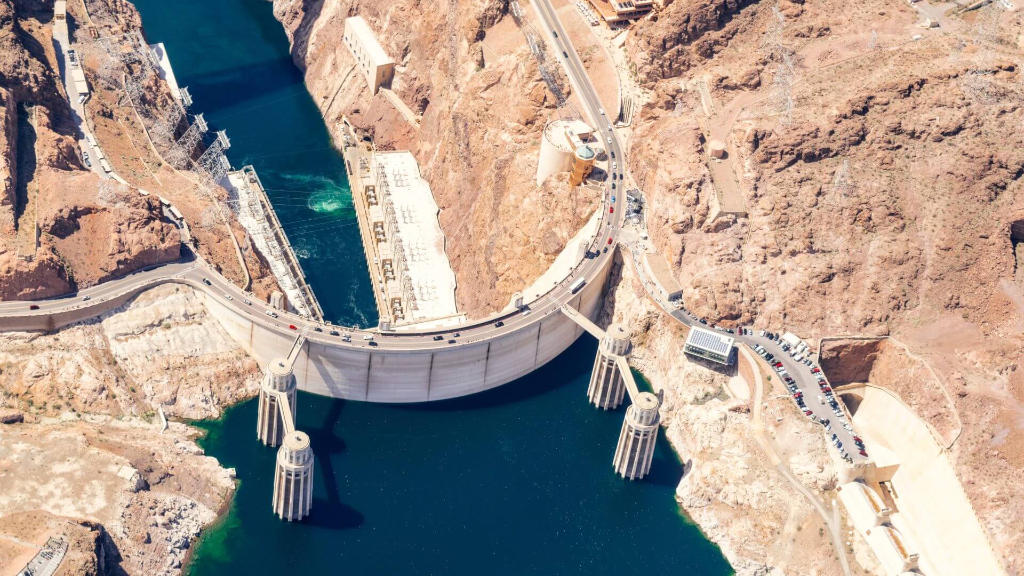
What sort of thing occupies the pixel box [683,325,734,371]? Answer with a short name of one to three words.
building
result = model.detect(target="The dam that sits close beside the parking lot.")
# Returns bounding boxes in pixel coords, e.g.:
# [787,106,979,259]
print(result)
[185,189,616,401]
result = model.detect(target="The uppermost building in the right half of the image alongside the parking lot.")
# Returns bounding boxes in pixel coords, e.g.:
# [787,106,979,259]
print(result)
[645,252,683,300]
